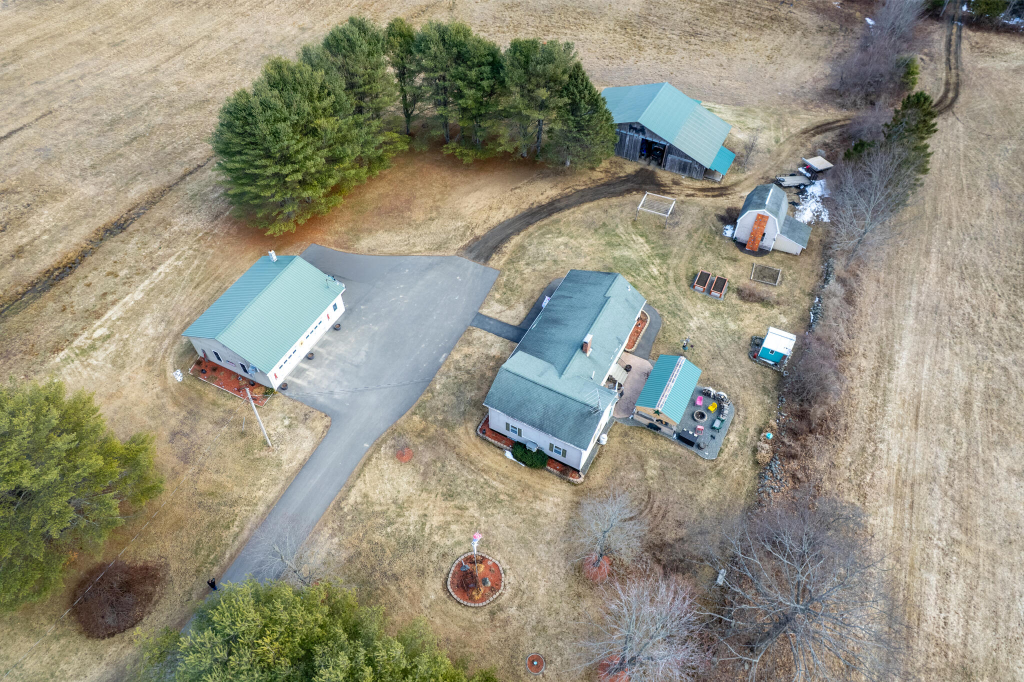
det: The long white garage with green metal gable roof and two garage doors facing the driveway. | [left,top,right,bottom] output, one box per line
[181,243,346,391]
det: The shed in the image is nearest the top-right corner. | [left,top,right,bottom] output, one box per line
[732,185,813,261]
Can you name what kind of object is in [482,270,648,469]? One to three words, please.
house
